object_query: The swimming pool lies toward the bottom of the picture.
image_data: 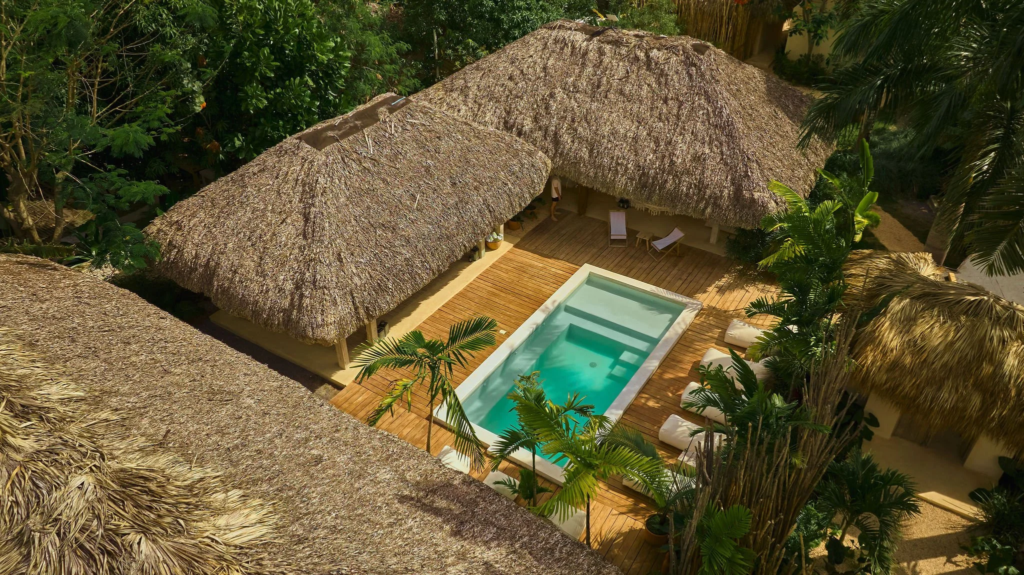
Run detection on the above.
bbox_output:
[434,263,702,491]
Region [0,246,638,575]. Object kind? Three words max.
house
